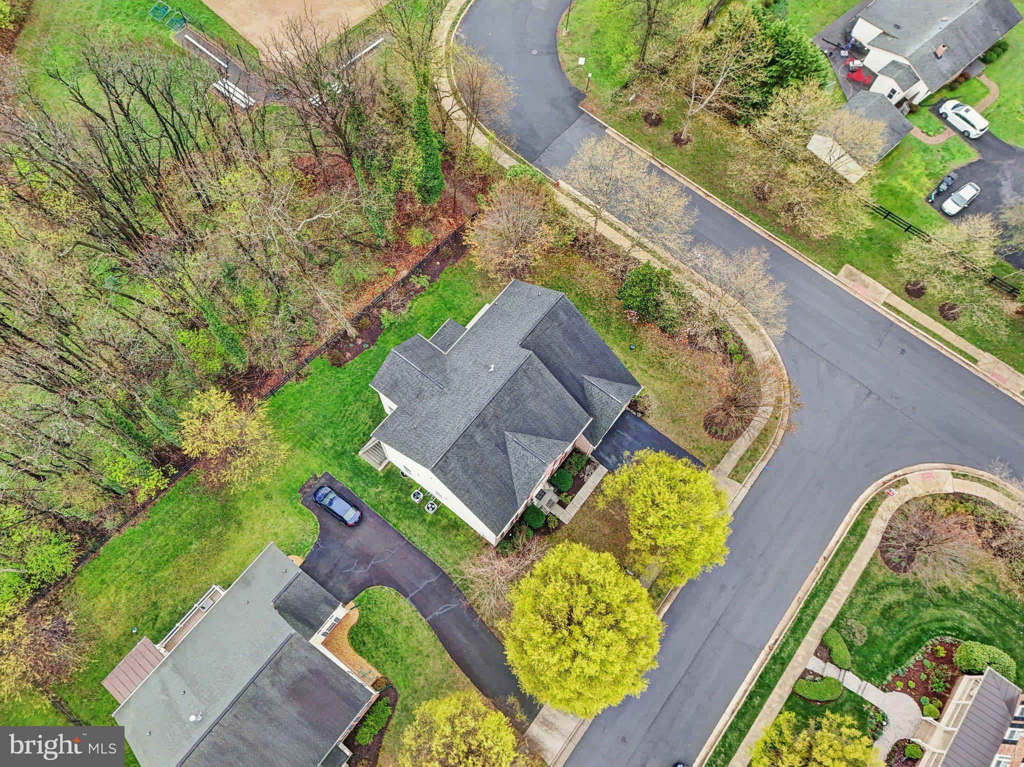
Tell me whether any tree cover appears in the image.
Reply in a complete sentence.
Yes, there's tree cover in this view.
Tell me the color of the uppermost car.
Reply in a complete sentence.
The uppermost car is white.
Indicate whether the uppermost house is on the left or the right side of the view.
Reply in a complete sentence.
The uppermost house is on the right side of the image.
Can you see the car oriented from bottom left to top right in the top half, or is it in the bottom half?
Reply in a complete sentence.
You can find the car oriented from bottom left to top right in the top half.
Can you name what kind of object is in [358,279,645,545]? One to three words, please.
house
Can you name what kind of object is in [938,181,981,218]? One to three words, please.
car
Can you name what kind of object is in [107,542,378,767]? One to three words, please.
house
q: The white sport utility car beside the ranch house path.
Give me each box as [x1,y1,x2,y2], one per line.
[937,103,988,140]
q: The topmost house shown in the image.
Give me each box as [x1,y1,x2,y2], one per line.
[852,0,1023,114]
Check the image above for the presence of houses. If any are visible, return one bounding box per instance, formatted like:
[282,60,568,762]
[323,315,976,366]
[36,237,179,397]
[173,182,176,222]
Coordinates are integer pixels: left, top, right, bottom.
[358,279,645,545]
[852,0,1023,114]
[908,663,1024,767]
[107,542,378,767]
